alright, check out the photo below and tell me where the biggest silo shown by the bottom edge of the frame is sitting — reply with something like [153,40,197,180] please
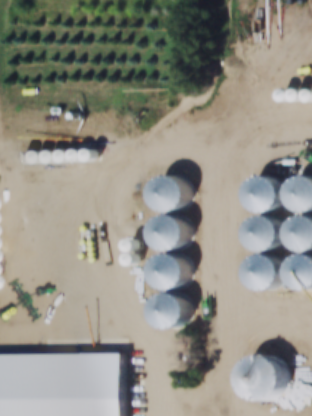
[230,350,290,400]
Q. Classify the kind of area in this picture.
industrial area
